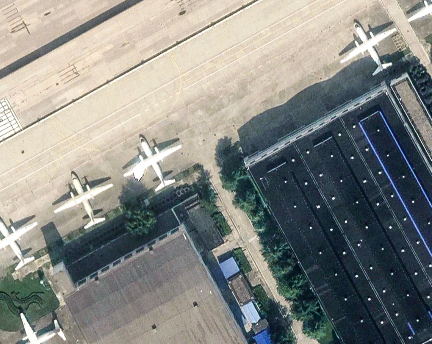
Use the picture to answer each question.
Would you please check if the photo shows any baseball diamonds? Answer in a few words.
No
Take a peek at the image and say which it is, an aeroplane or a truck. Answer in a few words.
aeroplane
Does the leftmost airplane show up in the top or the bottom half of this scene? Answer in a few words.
bottom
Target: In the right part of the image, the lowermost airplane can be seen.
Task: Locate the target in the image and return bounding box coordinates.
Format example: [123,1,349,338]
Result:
[339,21,395,71]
